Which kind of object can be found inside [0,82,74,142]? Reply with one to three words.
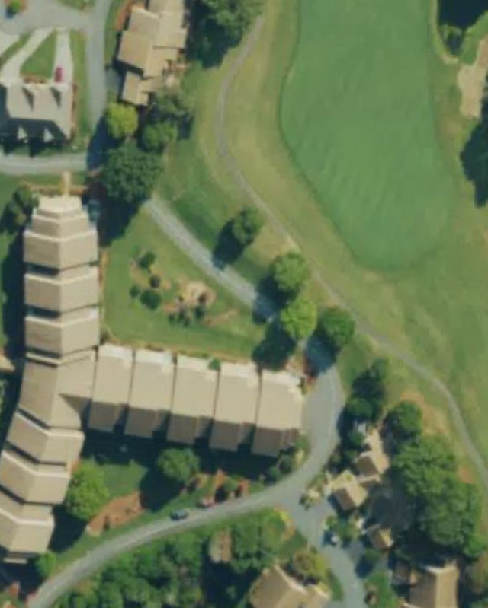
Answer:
house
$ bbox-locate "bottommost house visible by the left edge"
[0,491,56,565]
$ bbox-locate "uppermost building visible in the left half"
[115,0,189,107]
